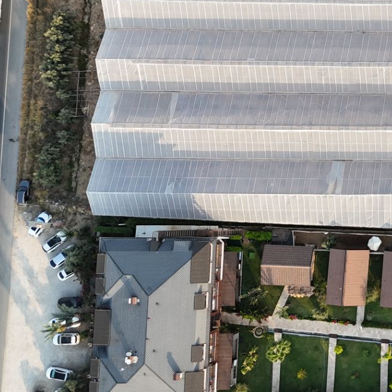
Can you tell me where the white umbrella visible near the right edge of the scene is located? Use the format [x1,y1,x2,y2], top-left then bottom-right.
[367,237,381,250]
